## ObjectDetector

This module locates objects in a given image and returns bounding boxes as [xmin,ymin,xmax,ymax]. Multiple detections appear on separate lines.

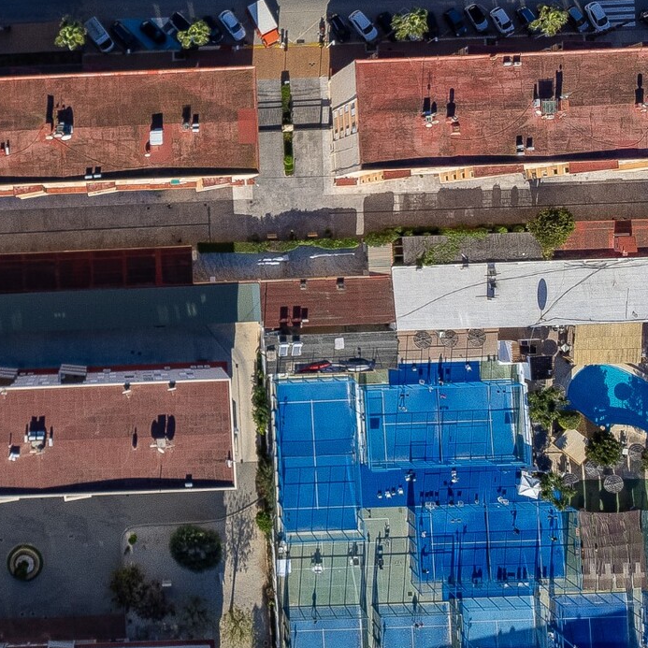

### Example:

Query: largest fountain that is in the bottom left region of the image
[7,543,44,583]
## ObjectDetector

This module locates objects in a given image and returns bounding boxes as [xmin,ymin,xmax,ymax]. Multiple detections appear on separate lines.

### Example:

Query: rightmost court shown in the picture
[552,593,648,648]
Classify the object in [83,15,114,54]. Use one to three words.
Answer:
van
